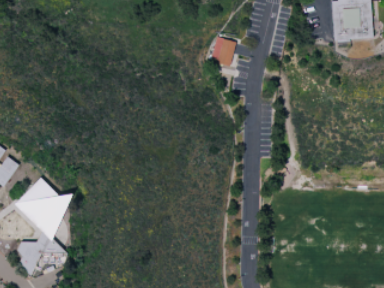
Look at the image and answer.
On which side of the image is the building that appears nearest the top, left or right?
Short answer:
right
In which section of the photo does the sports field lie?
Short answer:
bottom right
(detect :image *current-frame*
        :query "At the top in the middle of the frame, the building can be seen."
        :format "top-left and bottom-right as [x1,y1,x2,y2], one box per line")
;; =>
[214,36,237,66]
